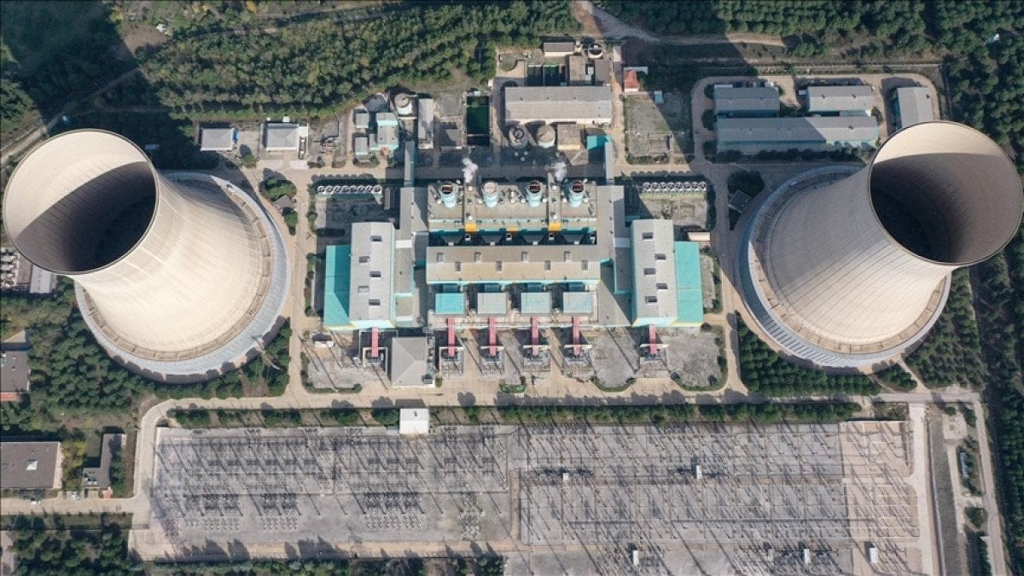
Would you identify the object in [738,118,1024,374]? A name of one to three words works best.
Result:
cooling tower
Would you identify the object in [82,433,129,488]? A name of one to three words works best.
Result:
building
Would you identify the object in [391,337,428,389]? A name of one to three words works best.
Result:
building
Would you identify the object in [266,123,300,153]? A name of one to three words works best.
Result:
house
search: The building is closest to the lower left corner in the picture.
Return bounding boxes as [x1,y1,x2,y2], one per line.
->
[0,441,68,489]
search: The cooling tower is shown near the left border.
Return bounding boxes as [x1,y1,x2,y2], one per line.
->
[2,126,290,381]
